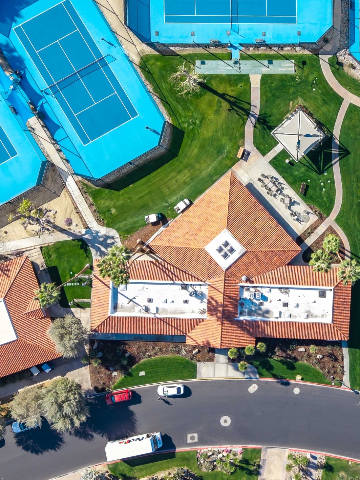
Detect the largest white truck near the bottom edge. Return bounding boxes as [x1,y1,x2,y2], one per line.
[104,435,163,462]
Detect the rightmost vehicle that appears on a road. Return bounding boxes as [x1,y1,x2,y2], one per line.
[157,383,185,397]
